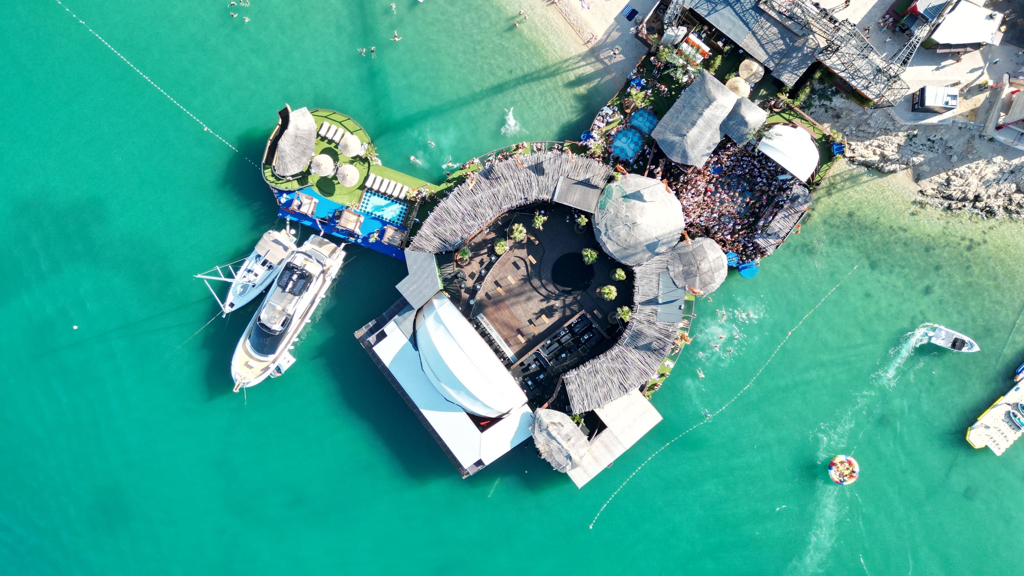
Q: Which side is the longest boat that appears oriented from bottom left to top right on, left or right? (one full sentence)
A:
The longest boat that appears oriented from bottom left to top right sits on the left side.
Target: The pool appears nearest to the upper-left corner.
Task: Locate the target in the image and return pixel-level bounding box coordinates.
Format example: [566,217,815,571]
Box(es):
[357,186,412,227]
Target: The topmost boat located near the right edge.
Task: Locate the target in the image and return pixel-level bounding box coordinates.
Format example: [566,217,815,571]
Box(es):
[928,327,981,352]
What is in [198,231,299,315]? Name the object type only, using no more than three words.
boat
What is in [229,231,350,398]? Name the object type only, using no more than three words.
boat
